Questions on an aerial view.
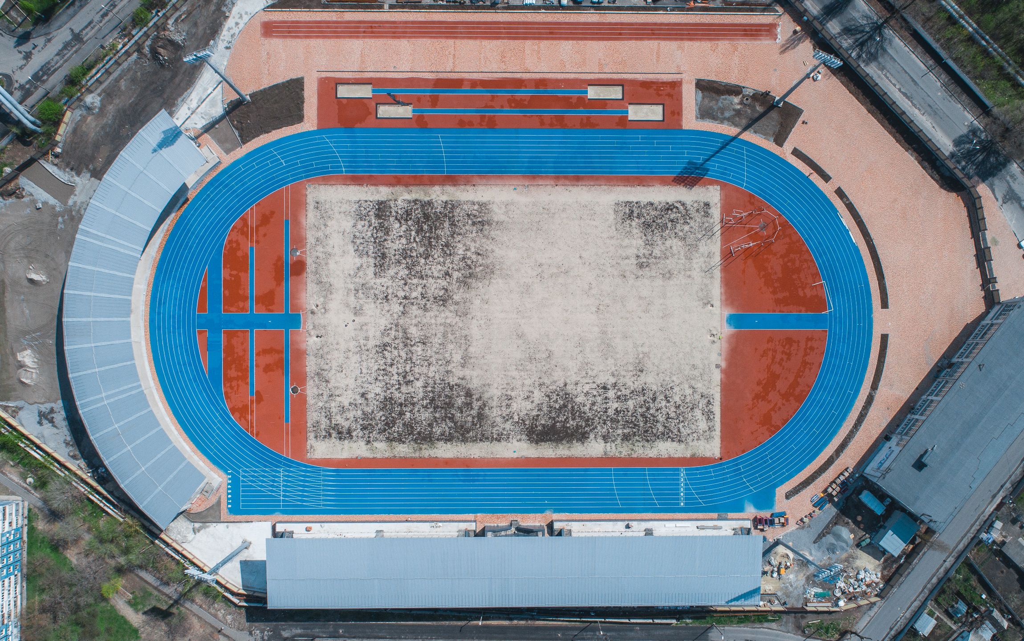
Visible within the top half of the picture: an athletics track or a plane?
athletics track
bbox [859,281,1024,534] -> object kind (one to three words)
building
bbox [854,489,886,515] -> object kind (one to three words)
building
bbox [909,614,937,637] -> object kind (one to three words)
shed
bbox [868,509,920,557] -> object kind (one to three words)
shed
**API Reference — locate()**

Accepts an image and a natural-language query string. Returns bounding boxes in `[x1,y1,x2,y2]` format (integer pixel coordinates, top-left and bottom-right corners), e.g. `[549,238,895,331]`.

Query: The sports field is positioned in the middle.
[306,184,721,458]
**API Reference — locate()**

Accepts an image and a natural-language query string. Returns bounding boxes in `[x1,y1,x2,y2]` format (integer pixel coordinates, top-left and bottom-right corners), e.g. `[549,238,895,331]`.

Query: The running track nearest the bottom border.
[150,128,874,514]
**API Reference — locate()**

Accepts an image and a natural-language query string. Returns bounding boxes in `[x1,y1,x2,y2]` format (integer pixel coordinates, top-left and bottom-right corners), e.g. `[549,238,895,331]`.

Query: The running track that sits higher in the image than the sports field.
[262,20,782,43]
